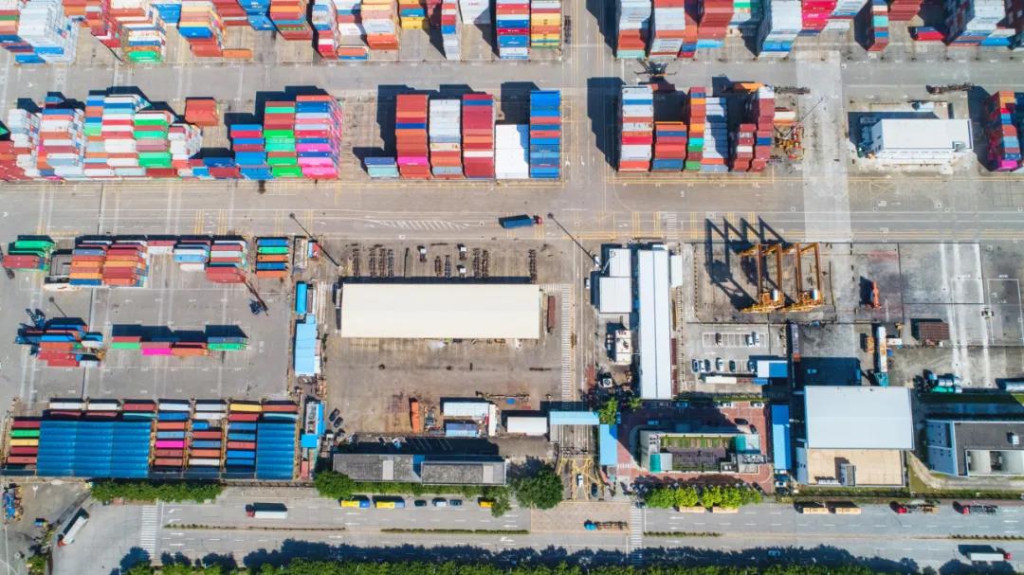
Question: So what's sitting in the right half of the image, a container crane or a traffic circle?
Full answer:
It is a container crane that can be seen in the right half of the image.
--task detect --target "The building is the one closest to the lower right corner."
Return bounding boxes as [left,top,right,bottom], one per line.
[925,422,1024,476]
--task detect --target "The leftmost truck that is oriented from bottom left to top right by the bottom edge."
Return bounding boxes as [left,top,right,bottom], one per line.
[56,513,93,548]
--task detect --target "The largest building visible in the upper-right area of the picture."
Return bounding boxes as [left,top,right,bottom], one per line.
[857,118,972,177]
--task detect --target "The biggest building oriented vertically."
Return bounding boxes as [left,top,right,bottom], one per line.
[634,249,673,400]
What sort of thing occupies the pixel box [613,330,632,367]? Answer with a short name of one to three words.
building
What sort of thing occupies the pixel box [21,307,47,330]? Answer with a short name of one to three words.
work vehicle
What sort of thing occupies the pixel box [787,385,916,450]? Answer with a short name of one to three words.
building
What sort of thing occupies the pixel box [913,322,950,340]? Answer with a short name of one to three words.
shed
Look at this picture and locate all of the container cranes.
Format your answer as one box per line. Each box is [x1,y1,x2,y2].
[773,238,825,308]
[735,238,784,308]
